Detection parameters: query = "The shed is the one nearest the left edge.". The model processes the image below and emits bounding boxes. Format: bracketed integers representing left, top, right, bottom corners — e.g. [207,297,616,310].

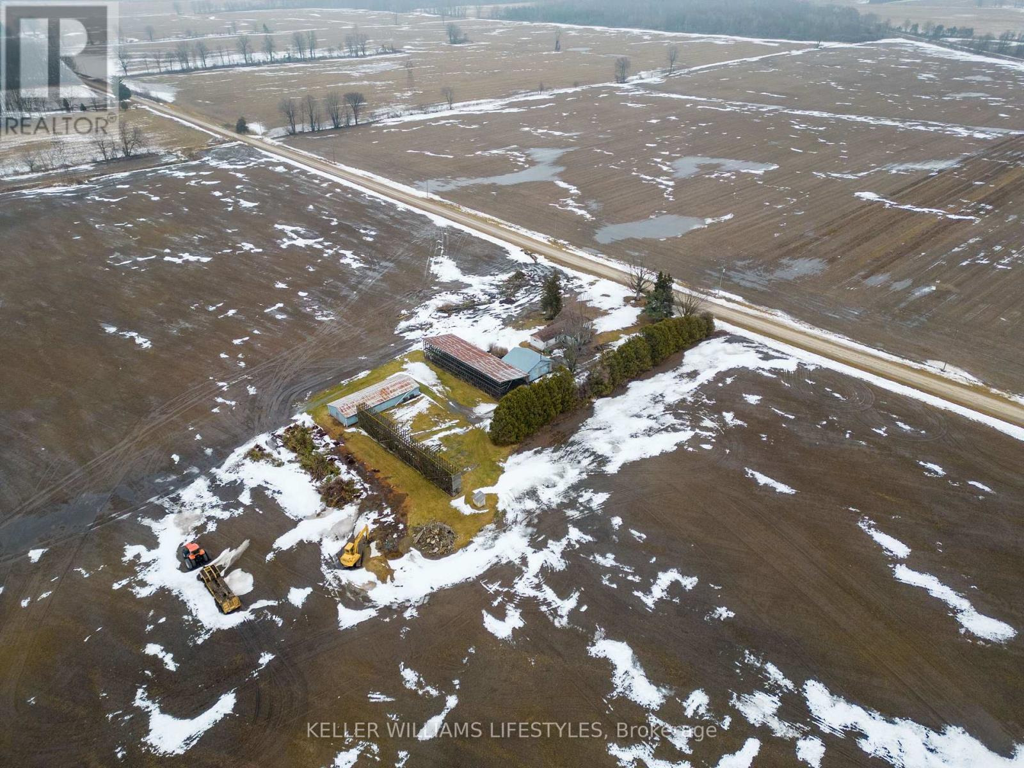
[324,369,420,427]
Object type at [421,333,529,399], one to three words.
shed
